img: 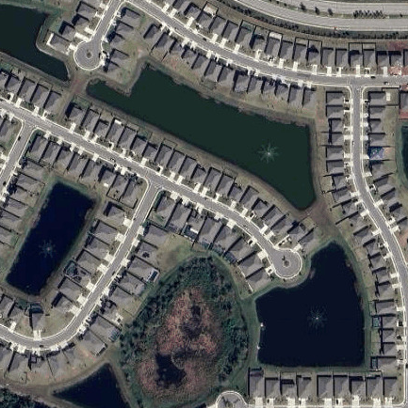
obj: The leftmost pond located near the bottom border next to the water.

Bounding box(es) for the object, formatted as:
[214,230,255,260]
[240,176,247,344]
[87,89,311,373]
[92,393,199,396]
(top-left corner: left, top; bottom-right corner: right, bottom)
[54,364,130,408]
